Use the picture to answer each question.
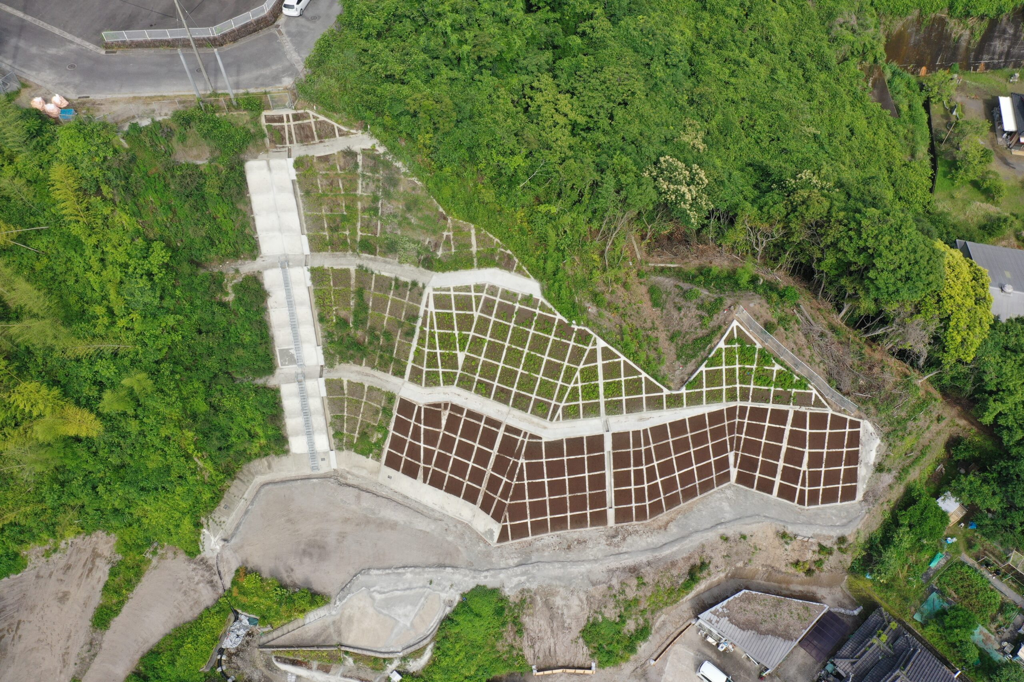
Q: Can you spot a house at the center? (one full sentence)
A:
No, there's no house to be seen at the center.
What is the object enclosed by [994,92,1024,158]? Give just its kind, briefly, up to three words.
house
